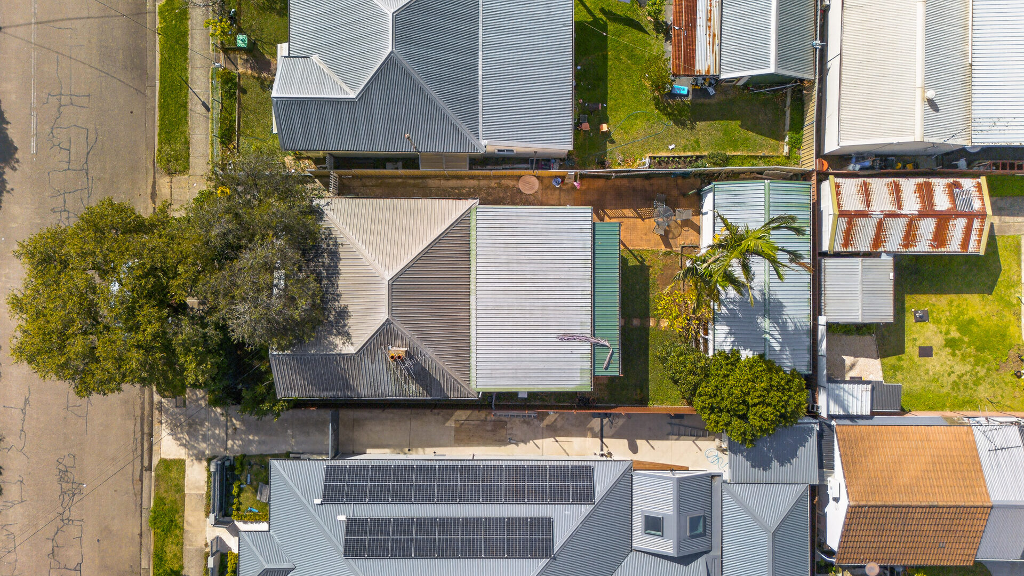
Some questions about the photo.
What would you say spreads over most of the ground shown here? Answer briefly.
buildings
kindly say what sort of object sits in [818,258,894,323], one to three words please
shed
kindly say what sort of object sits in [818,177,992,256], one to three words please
building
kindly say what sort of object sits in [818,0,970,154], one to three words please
building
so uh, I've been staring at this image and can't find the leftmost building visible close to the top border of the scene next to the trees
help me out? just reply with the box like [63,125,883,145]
[272,0,576,157]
